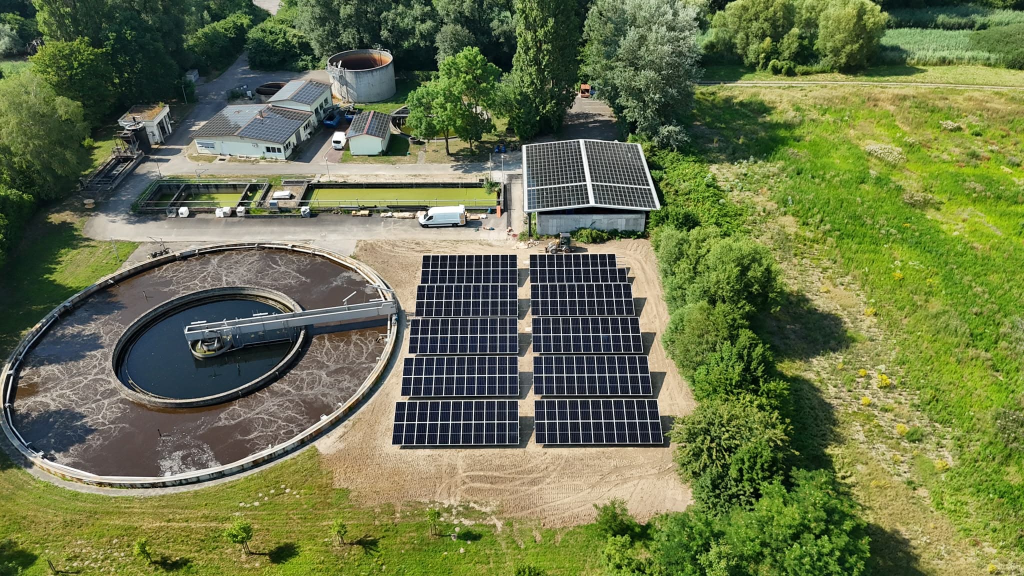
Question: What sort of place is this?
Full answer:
The picture captures an industrial area.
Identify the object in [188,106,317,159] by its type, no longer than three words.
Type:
building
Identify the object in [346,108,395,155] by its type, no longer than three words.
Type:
shed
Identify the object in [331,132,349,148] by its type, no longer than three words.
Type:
vehicle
